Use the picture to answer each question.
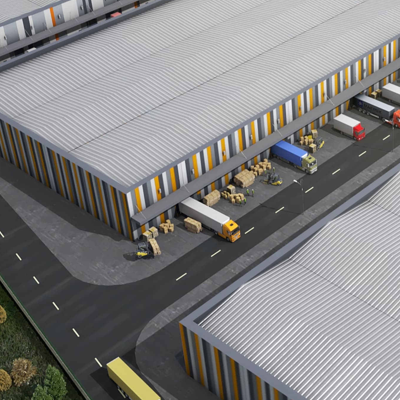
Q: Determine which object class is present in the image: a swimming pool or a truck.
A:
truck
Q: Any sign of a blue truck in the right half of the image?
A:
Yes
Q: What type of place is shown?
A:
industrial area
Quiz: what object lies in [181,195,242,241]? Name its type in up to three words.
truck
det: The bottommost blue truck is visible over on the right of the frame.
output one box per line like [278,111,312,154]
[273,139,320,174]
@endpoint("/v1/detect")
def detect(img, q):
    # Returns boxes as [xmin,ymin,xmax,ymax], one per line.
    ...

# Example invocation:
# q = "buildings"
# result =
[0,0,400,242]
[179,163,400,400]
